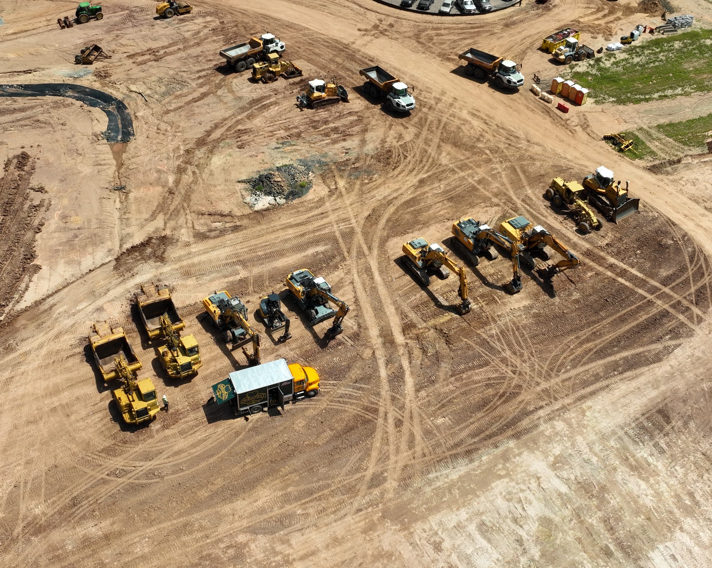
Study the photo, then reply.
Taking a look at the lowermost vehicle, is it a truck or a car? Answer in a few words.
truck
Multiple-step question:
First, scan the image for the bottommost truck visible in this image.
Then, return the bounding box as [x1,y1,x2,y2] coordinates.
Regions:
[209,356,321,414]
